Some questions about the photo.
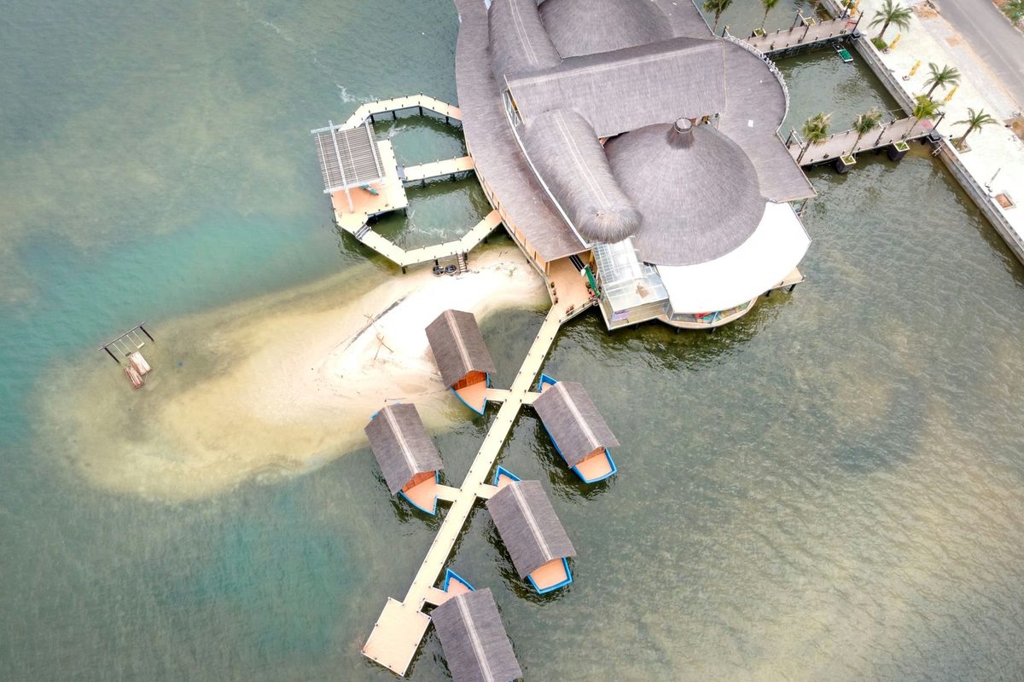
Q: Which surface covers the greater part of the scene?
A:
water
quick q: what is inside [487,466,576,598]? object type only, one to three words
building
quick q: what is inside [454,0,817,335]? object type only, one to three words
building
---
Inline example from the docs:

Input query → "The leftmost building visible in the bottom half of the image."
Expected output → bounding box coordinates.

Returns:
[364,401,445,522]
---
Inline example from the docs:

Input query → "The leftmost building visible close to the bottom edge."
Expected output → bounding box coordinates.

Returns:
[431,567,523,682]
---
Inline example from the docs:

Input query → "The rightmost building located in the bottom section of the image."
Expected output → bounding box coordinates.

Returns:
[534,373,618,488]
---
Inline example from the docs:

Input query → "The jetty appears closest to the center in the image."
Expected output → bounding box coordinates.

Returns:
[362,306,561,676]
